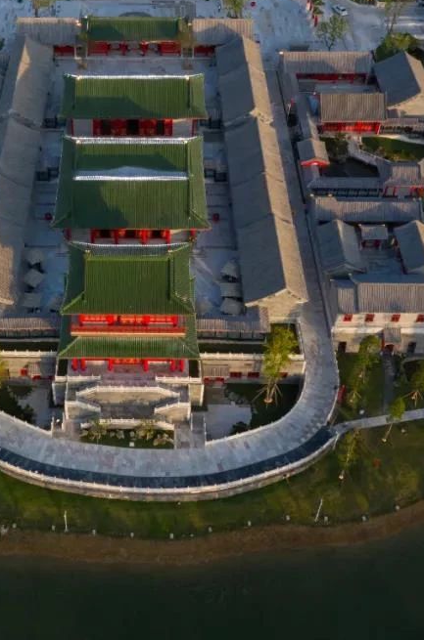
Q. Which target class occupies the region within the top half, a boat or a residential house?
residential house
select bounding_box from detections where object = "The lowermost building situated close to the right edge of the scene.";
[327,278,424,362]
